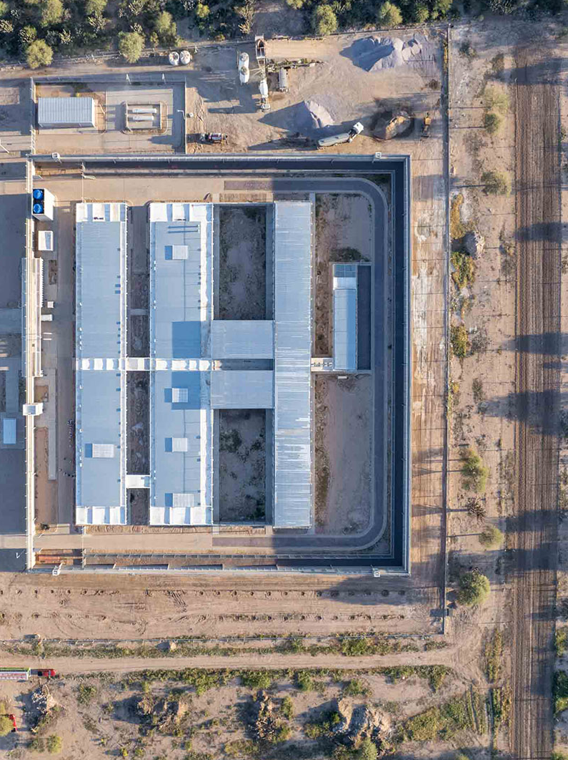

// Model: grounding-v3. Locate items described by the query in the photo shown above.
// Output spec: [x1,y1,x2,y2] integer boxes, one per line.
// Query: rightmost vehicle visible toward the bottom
[37,670,57,683]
